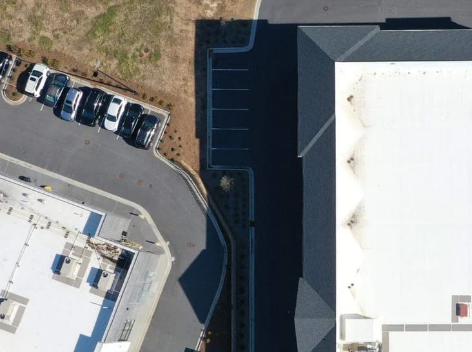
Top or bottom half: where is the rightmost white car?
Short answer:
top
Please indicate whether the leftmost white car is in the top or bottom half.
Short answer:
top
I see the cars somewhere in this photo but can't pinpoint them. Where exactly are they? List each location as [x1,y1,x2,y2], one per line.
[0,50,9,81]
[134,114,160,150]
[119,104,143,139]
[83,89,108,125]
[25,63,50,97]
[104,95,128,131]
[60,85,85,122]
[45,73,70,109]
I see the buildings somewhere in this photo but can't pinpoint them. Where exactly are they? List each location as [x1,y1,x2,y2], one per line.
[0,170,160,352]
[293,24,472,352]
